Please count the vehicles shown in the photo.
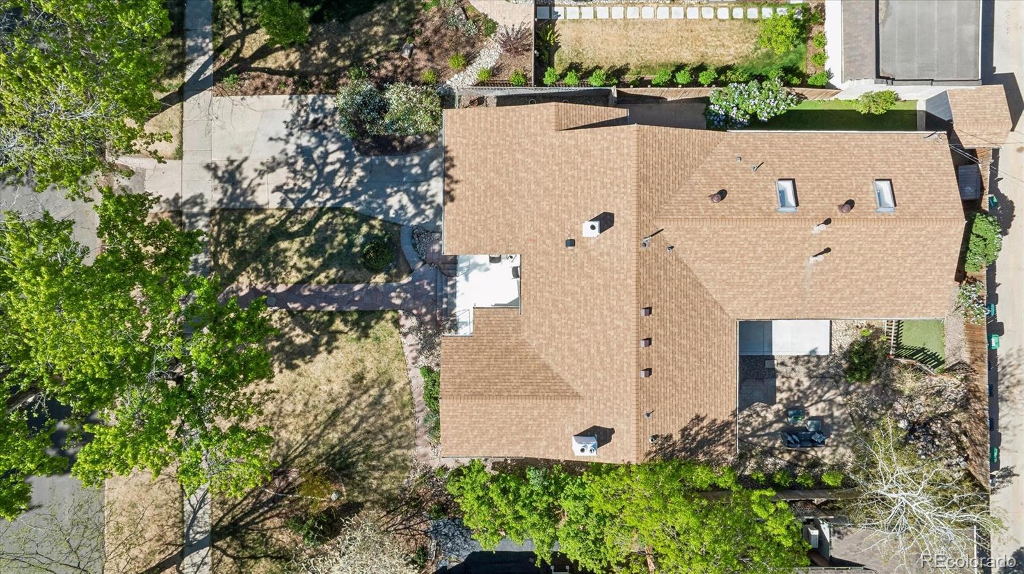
0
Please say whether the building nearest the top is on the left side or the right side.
right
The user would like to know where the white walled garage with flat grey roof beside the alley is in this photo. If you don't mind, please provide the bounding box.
[829,0,983,97]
